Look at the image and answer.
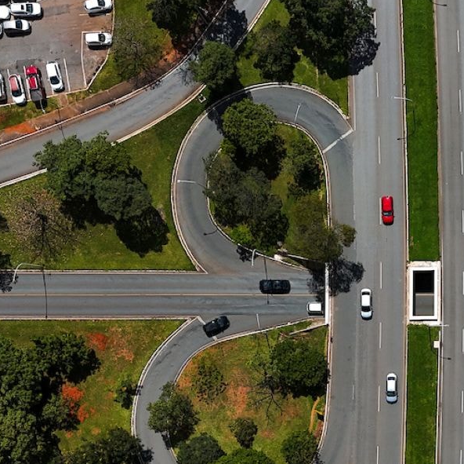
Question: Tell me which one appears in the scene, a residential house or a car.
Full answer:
There is a car in the scene.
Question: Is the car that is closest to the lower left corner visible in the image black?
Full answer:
Yes, the car that is closest to the lower left corner appears black.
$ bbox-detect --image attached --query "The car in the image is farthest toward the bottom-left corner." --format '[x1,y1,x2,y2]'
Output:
[203,316,232,335]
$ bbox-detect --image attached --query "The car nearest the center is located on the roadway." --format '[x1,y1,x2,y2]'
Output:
[260,279,290,294]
